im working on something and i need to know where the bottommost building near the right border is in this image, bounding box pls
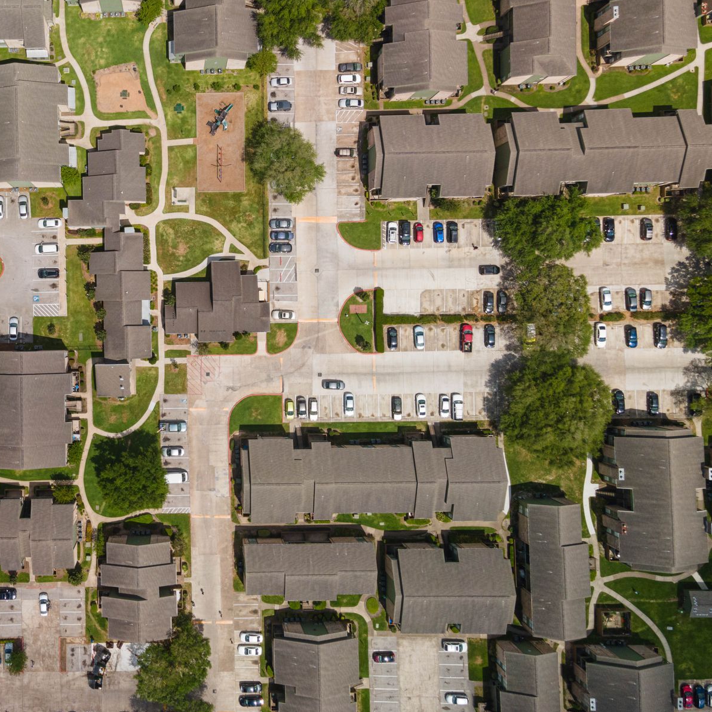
[568,647,683,712]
